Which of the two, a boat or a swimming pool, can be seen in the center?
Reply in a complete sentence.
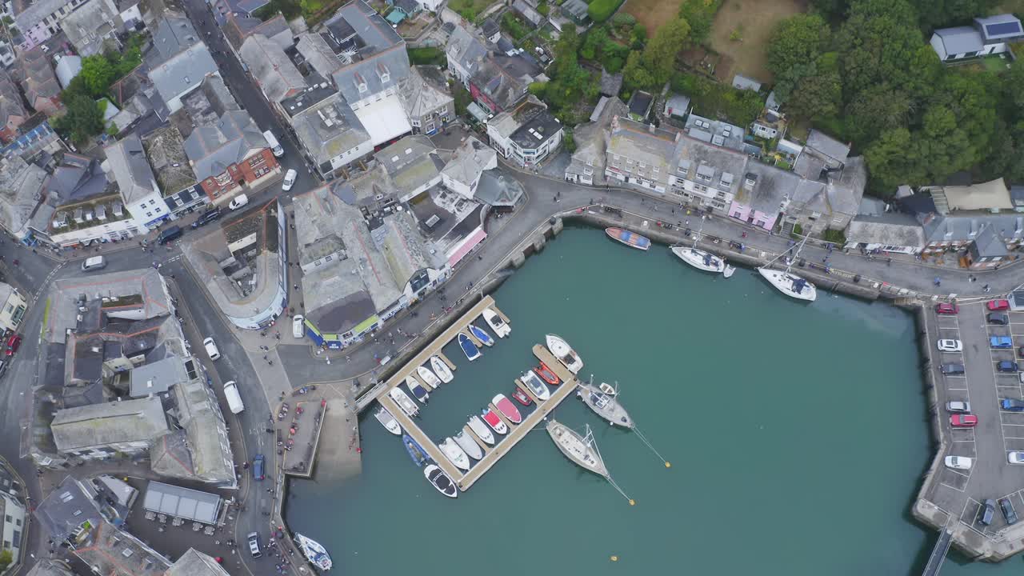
The feature located in the center is a boat.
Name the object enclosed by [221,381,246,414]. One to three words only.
vehicle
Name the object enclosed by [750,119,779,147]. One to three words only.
building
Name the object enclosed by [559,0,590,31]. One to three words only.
shed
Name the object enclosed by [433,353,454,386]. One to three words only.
boat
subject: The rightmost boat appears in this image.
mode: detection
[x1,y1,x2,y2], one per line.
[761,242,818,303]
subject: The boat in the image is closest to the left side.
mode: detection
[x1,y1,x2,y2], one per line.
[290,532,335,572]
